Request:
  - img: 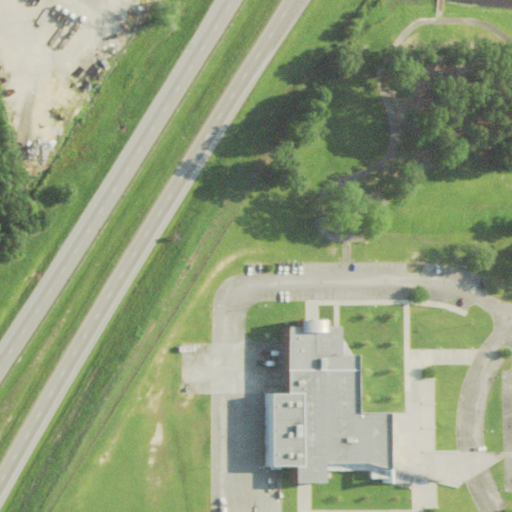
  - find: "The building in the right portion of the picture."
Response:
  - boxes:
[266,318,460,488]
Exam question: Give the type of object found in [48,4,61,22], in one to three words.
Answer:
vehicle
